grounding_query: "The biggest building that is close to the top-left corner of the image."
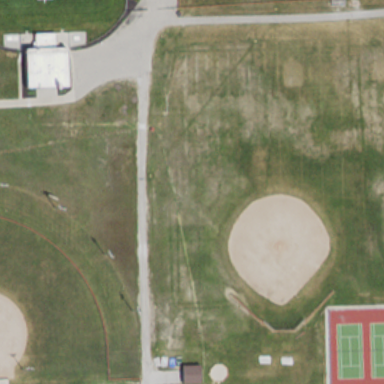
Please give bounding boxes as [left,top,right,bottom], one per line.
[26,48,70,89]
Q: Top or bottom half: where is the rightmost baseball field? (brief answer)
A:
bottom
